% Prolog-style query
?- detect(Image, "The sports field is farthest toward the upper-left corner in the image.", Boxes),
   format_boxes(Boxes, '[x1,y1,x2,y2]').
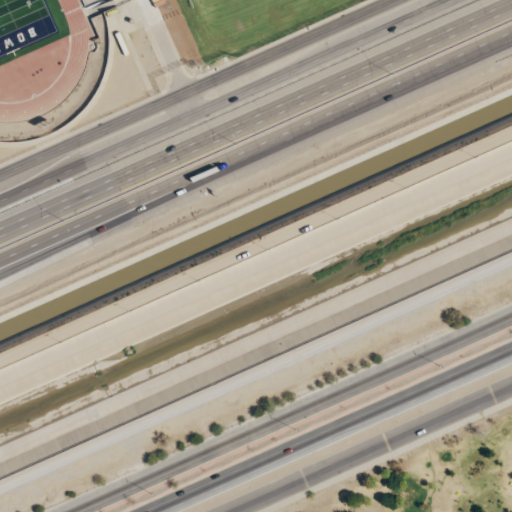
[0,0,70,66]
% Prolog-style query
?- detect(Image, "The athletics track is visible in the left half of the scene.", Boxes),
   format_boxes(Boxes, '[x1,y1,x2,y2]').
[0,0,89,121]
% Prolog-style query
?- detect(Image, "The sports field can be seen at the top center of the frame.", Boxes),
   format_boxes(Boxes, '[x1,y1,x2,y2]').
[177,0,374,62]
